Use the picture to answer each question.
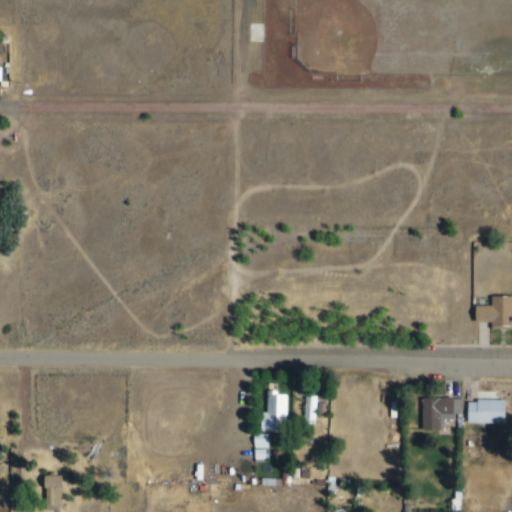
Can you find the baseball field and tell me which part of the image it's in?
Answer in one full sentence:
The baseball field is located in the top right region of the scene.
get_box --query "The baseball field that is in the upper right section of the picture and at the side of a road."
[249,0,512,90]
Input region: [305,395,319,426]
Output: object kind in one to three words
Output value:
house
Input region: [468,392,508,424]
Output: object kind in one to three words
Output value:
house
